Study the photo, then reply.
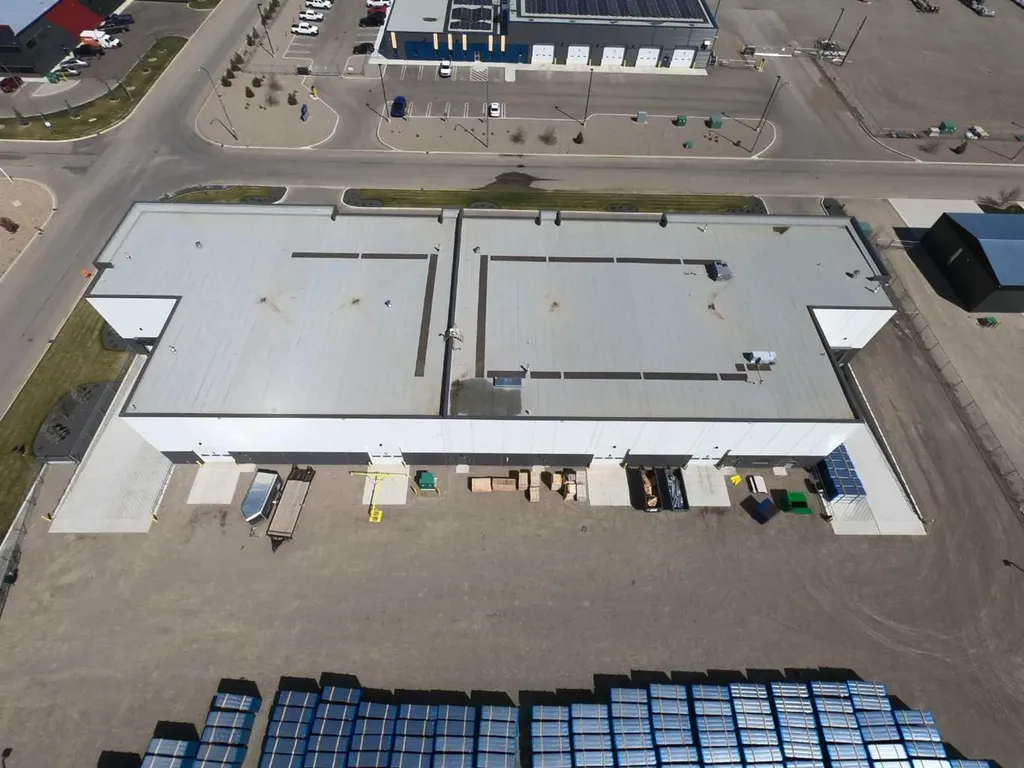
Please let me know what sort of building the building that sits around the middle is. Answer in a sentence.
I'd say the building that sits around the middle is a warehouse.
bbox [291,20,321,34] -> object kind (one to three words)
vehicle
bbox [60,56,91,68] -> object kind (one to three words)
vehicle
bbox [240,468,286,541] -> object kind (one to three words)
trailer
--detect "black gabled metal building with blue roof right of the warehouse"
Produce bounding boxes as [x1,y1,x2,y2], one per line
[921,212,1024,312]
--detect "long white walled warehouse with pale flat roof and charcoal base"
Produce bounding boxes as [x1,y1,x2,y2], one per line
[85,202,895,468]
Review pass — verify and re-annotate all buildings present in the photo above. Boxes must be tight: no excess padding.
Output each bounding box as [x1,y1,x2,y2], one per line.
[0,0,129,76]
[85,202,895,468]
[384,0,719,69]
[921,212,1024,312]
